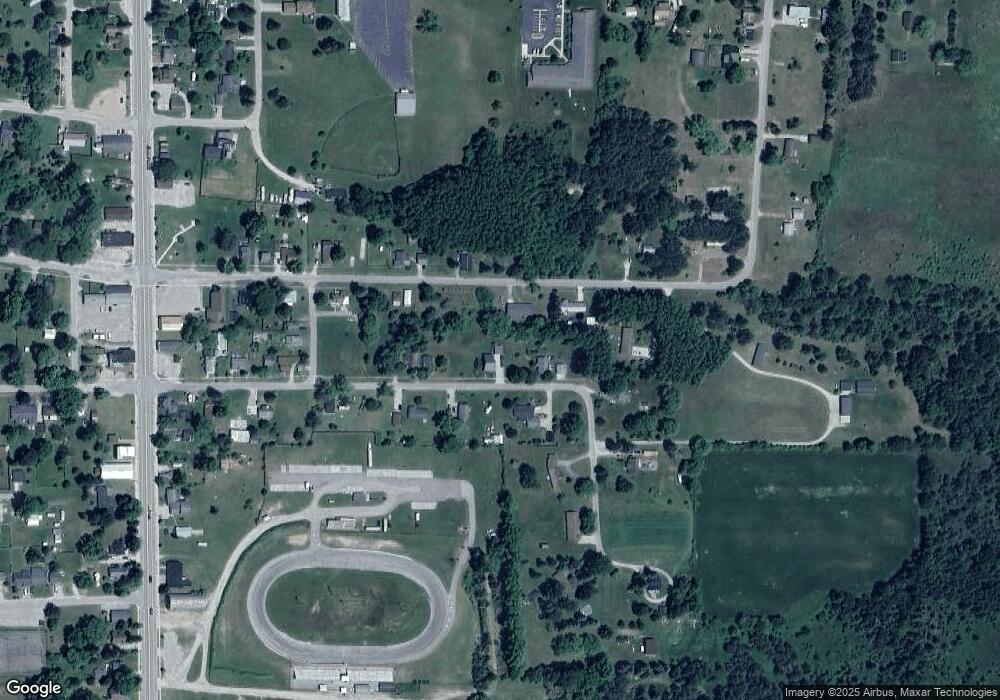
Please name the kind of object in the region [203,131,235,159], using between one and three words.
house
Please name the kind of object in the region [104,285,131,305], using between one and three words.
building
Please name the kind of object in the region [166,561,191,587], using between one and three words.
barn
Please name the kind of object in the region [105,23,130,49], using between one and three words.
house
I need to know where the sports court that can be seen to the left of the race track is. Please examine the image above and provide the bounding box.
[0,632,45,672]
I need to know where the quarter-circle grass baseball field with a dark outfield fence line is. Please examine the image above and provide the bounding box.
[319,97,398,178]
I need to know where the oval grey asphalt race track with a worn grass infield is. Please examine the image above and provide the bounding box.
[247,548,451,665]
